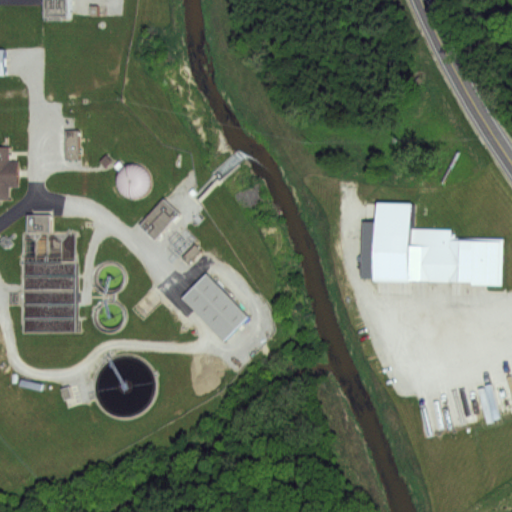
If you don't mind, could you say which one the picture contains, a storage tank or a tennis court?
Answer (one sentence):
There is a storage tank in the scene.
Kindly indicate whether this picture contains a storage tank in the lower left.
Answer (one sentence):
Yes, a storage tank shows up in the lower left.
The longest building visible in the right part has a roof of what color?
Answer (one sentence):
From above, the roof of the longest building visible in the right part looks white.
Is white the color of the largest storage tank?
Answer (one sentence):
No, from above the largest storage tank looks black.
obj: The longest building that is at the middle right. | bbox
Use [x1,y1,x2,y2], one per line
[372,202,504,287]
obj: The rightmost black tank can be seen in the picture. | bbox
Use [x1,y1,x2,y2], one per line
[94,351,160,418]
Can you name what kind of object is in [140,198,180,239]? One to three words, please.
building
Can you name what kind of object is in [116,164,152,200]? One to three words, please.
storage tank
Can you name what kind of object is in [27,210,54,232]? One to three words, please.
building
